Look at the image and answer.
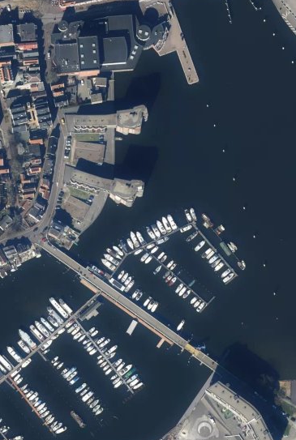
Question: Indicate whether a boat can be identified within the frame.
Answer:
Yes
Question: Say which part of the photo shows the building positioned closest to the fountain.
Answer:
bottom right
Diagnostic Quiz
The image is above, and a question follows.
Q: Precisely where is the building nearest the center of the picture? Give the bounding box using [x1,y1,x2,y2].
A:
[113,179,145,207]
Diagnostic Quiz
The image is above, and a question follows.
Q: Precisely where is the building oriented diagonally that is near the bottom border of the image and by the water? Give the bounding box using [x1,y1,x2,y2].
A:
[207,381,274,440]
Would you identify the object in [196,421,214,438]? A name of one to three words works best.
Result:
fountain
